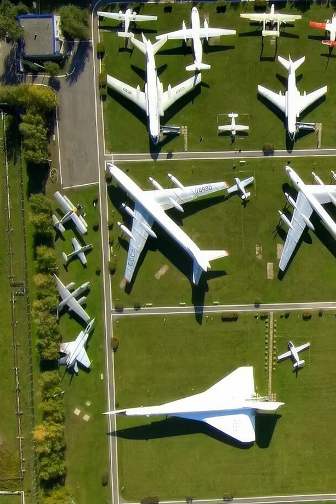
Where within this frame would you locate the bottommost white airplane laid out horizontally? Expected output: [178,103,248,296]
[105,364,282,442]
